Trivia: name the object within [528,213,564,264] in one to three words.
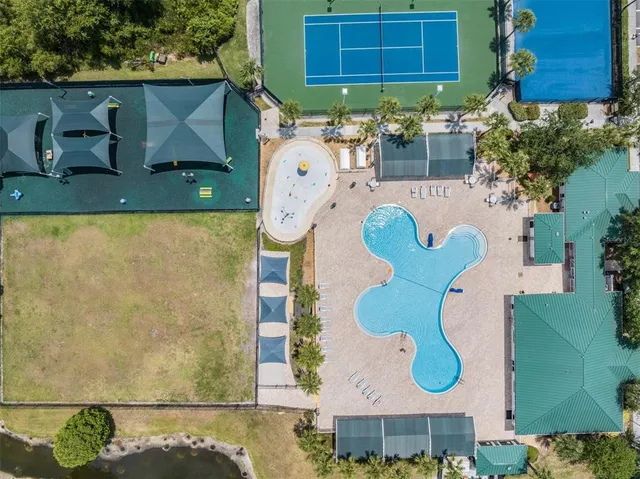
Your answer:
shed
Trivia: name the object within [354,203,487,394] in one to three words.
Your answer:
swimming pool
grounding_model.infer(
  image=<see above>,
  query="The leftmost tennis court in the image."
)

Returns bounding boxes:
[264,0,496,101]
